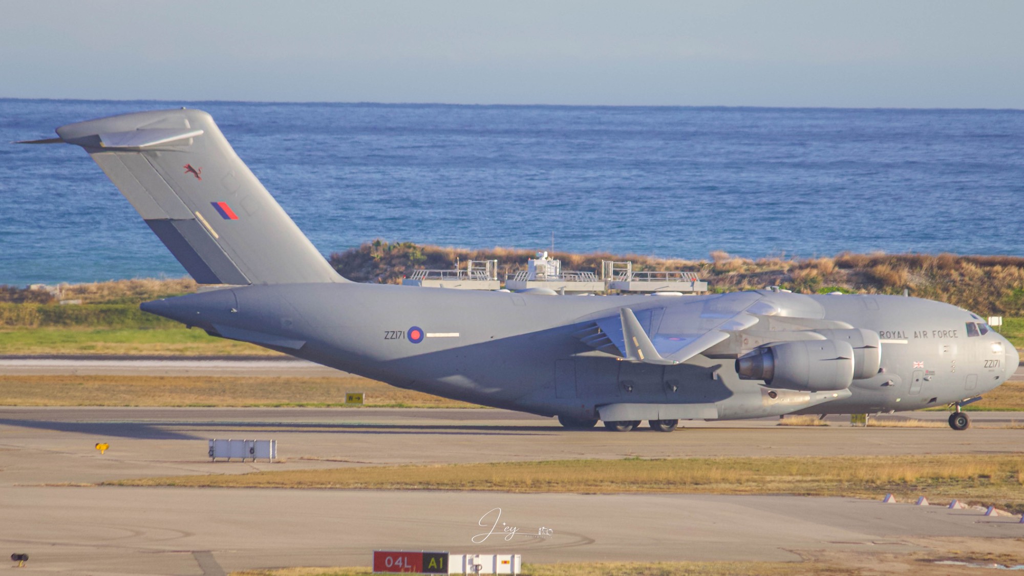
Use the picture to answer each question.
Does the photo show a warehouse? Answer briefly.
No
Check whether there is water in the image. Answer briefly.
Yes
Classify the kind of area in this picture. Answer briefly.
airport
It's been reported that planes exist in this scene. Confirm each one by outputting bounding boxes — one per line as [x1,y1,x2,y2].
[27,106,1017,429]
